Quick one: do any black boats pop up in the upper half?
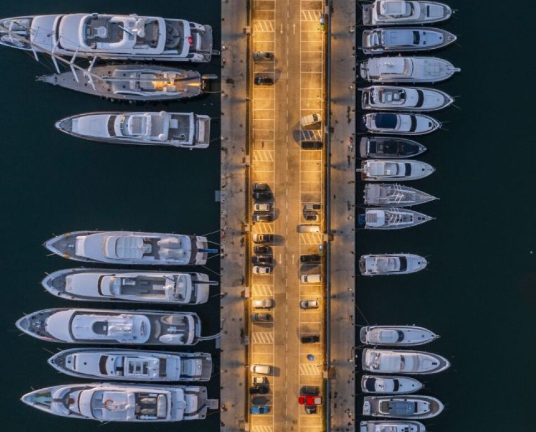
Yes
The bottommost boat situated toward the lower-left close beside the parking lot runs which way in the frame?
horizontally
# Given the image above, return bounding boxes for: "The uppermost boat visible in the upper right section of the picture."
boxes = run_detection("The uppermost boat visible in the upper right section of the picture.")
[361,0,459,27]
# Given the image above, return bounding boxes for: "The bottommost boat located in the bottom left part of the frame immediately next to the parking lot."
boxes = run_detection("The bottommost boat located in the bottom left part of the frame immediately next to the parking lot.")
[19,382,221,423]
